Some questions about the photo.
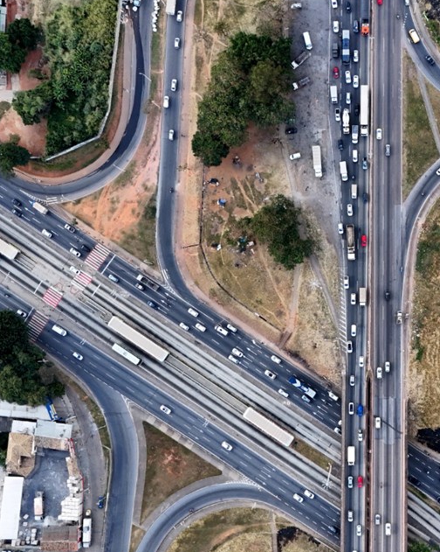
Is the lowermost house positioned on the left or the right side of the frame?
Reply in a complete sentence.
The lowermost house sits on the left side.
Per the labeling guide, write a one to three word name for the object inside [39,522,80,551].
house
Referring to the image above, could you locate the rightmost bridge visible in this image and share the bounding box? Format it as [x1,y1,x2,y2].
[371,0,407,552]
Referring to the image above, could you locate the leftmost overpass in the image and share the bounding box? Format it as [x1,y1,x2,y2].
[343,340,368,552]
